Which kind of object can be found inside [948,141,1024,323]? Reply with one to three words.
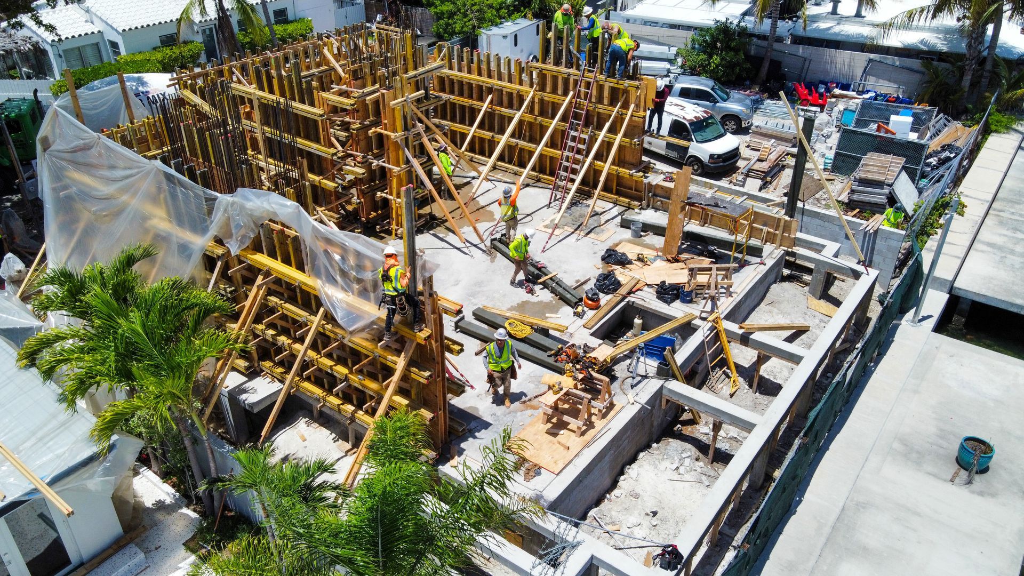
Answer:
pier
